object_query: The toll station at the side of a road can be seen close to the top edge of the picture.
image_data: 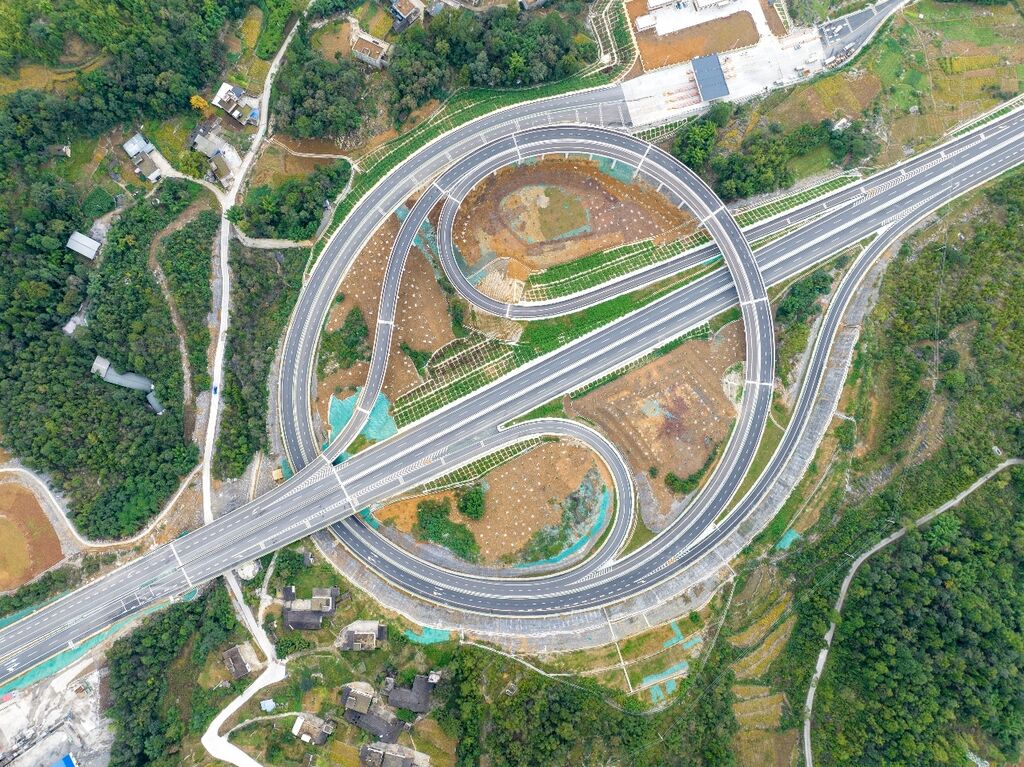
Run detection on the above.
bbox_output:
[624,26,825,127]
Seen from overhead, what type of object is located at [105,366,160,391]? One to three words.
building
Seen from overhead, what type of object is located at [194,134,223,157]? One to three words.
house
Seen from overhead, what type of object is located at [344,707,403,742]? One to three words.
house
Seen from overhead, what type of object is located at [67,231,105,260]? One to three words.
shed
